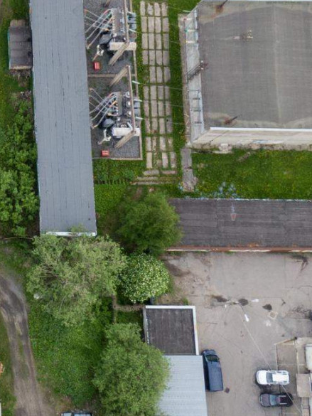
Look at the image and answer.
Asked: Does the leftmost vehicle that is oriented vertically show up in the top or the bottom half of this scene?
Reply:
bottom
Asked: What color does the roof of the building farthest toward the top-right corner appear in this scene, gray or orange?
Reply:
gray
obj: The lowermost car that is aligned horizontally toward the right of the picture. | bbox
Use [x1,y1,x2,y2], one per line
[258,391,294,409]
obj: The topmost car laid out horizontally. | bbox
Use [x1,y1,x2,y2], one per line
[255,369,290,386]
